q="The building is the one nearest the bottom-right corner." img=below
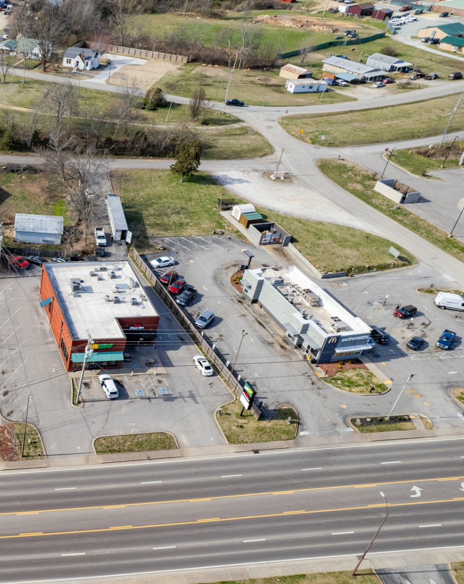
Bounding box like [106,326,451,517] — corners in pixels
[234,266,379,365]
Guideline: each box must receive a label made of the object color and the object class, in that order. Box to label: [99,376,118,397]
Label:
white car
